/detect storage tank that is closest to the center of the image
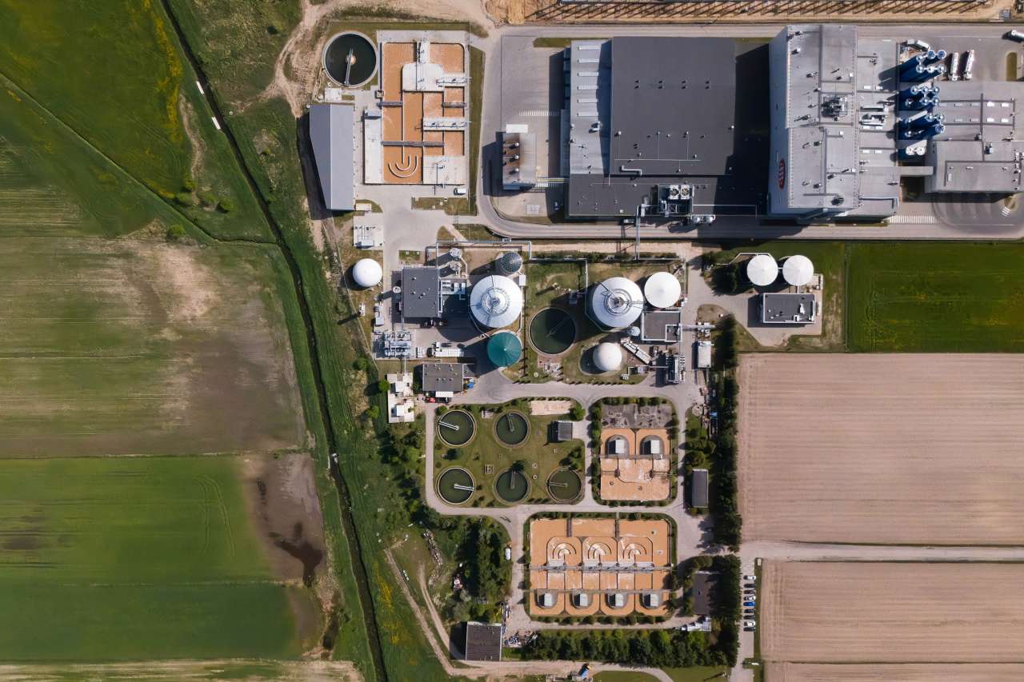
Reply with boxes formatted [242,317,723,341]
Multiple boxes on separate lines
[487,331,522,370]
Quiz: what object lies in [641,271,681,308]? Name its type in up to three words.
storage tank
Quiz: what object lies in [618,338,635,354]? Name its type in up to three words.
vehicle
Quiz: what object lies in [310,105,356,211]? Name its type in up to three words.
shed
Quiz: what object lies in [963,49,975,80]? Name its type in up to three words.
vehicle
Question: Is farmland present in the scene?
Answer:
Yes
